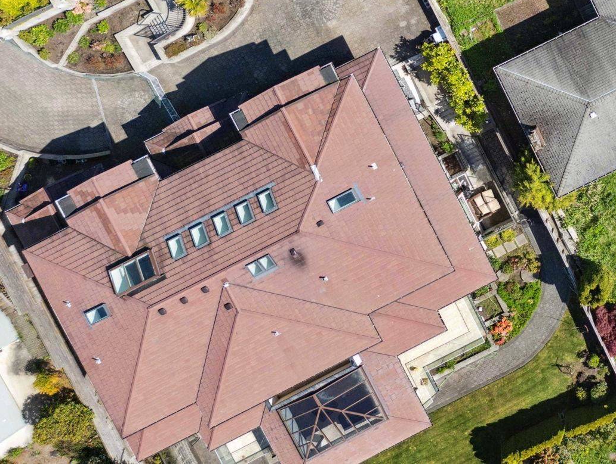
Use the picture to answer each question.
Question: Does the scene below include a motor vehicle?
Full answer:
No, the frame has no motor vehicle in it.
